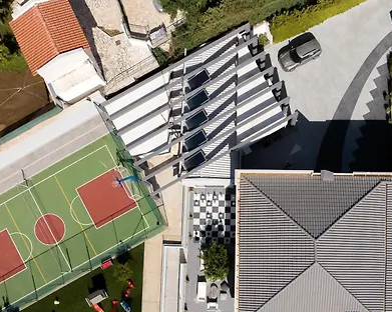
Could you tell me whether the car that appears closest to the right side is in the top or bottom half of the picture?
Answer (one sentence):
Seen from above, the car that appears closest to the right side lies in the top half of the view.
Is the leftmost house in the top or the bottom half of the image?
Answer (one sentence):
Seen from above, the leftmost house lies in the top half of the view.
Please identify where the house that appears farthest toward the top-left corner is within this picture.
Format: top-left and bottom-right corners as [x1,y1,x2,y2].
[7,0,112,111]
